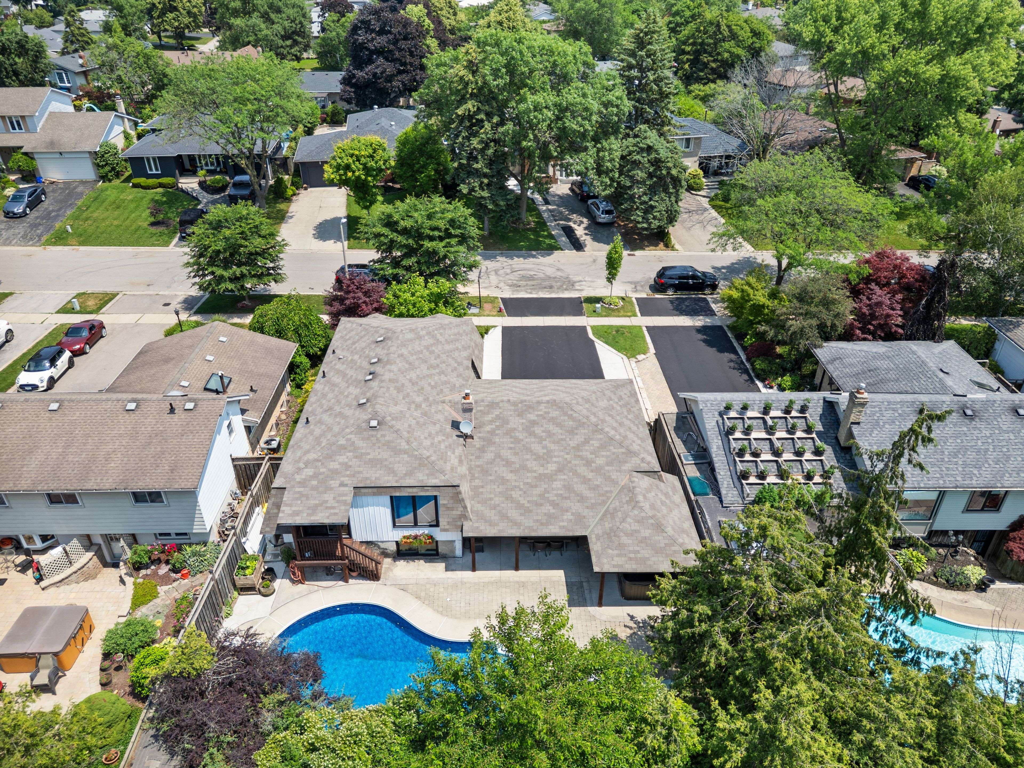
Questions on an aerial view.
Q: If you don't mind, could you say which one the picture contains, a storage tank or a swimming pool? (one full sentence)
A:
The one in the frame is a swimming pool.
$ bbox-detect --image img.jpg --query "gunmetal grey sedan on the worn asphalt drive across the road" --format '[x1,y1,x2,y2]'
[4,190,44,215]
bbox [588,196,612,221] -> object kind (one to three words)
car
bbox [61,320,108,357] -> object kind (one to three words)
car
